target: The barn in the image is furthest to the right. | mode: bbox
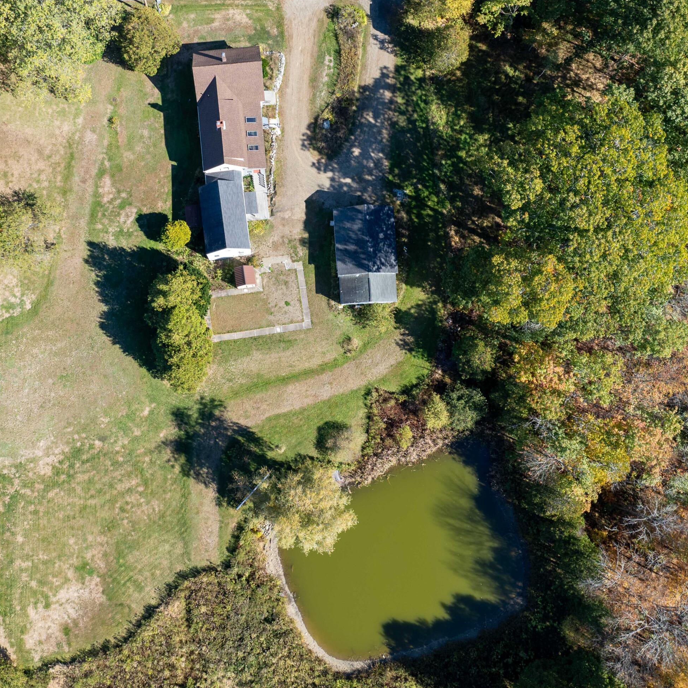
[333,204,398,306]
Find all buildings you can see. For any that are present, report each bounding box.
[233,265,255,288]
[333,204,398,306]
[189,47,268,259]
